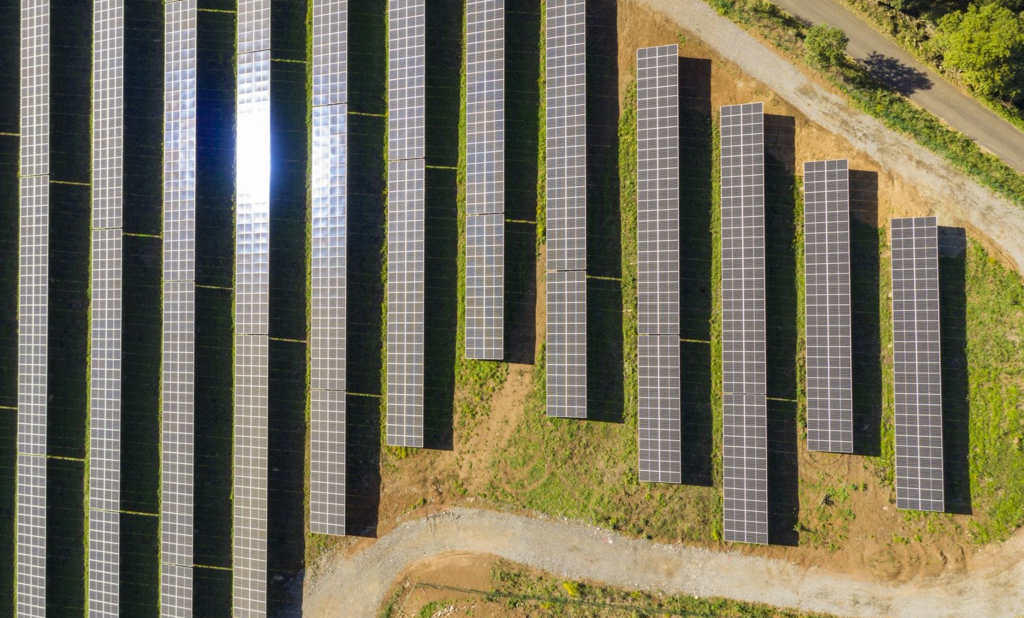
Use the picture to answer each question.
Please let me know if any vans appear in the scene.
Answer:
No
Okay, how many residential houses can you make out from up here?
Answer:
0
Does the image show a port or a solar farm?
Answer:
solar farm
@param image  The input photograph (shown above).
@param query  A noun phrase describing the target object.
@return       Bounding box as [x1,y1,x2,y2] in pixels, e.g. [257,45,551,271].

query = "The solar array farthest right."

[888,216,944,512]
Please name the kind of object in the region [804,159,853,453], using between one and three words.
solar array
